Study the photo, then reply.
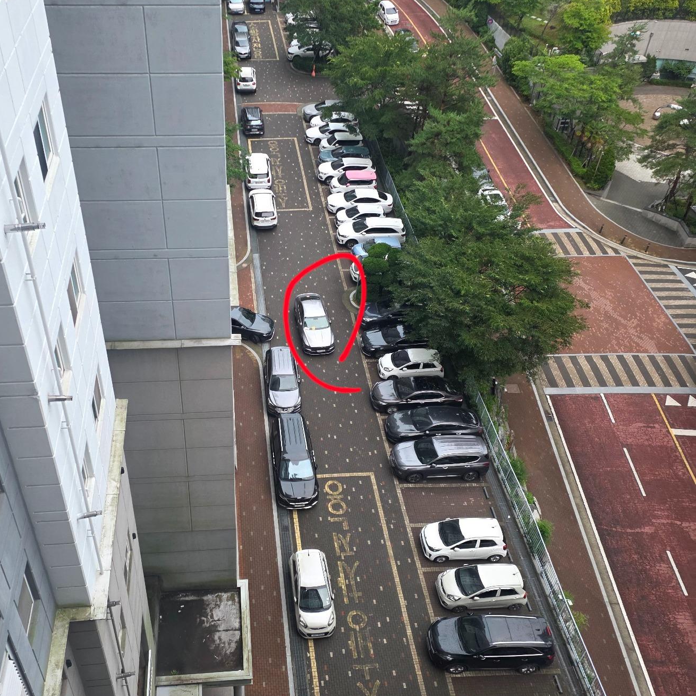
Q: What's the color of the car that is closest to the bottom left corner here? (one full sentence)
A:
From above, the car that is closest to the bottom left corner appears white.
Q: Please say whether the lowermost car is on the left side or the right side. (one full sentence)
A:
The lowermost car sits on the right side.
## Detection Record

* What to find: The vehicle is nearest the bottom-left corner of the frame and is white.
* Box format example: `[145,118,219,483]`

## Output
[293,552,336,634]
